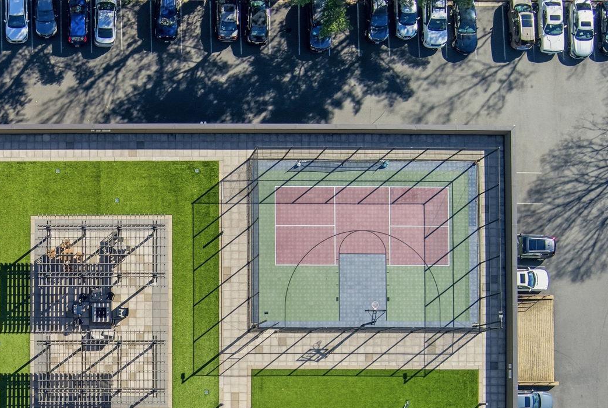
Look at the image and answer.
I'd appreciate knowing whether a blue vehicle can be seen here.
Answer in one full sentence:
Yes, you can see a blue vehicle in this photo.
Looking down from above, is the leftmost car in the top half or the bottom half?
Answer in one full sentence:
Seen from above, the leftmost car lies in the top half of the view.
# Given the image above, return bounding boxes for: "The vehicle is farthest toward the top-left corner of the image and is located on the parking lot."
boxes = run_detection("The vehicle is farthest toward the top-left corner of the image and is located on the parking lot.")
[2,0,30,44]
